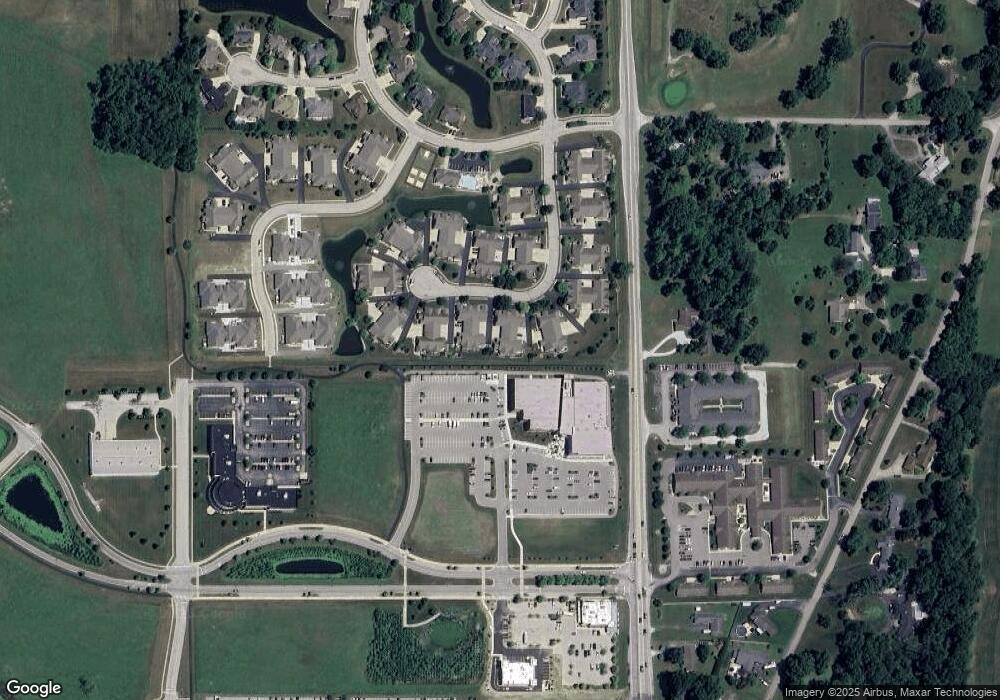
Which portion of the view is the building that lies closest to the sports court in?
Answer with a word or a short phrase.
top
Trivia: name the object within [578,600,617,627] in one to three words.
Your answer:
building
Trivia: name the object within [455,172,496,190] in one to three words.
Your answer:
swimming pool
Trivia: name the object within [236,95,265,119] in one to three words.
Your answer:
house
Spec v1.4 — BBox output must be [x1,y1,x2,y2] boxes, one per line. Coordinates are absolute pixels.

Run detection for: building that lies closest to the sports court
[433,167,461,187]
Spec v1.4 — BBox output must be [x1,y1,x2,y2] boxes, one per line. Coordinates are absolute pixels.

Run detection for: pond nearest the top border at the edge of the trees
[194,0,346,62]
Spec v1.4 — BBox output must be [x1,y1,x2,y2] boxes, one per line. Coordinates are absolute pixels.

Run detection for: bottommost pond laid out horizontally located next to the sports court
[396,194,494,226]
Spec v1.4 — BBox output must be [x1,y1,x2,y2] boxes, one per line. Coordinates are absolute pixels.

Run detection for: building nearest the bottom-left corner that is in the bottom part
[91,432,160,475]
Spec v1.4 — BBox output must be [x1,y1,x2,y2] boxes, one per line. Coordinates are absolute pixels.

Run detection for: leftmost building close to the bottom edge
[502,659,538,686]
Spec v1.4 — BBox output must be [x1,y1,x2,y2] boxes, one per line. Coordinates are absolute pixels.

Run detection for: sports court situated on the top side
[404,146,438,190]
